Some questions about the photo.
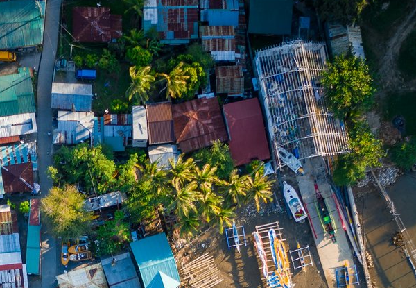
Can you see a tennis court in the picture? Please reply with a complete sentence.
No, this view has no tennis court in it.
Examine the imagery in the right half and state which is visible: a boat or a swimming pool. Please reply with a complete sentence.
It is a boat that can be seen in the right half.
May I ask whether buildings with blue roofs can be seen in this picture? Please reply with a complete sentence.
Yes, there is a building with a blue roof in the image.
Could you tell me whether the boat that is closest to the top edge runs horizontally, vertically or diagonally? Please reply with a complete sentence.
The boat that is closest to the top edge runs diagonally in the image.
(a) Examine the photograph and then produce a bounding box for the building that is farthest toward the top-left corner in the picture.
[0,0,46,54]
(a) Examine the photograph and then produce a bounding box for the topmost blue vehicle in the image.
[76,70,97,83]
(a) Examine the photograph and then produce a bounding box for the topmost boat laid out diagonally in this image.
[277,147,306,177]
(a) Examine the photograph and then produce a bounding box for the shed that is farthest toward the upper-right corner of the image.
[328,25,365,63]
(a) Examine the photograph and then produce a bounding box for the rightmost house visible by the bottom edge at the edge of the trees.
[130,232,180,288]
